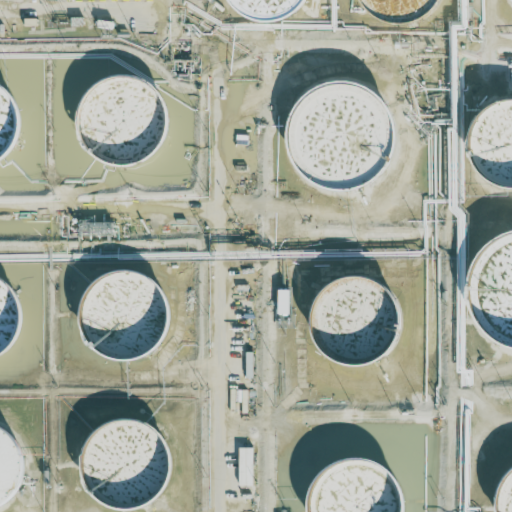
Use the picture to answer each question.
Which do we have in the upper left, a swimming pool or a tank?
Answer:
tank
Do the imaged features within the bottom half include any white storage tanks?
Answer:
Yes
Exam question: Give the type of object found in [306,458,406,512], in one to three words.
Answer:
storage tank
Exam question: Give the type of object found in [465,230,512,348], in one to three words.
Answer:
storage tank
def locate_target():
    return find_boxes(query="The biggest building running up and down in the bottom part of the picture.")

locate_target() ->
[239,448,253,487]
